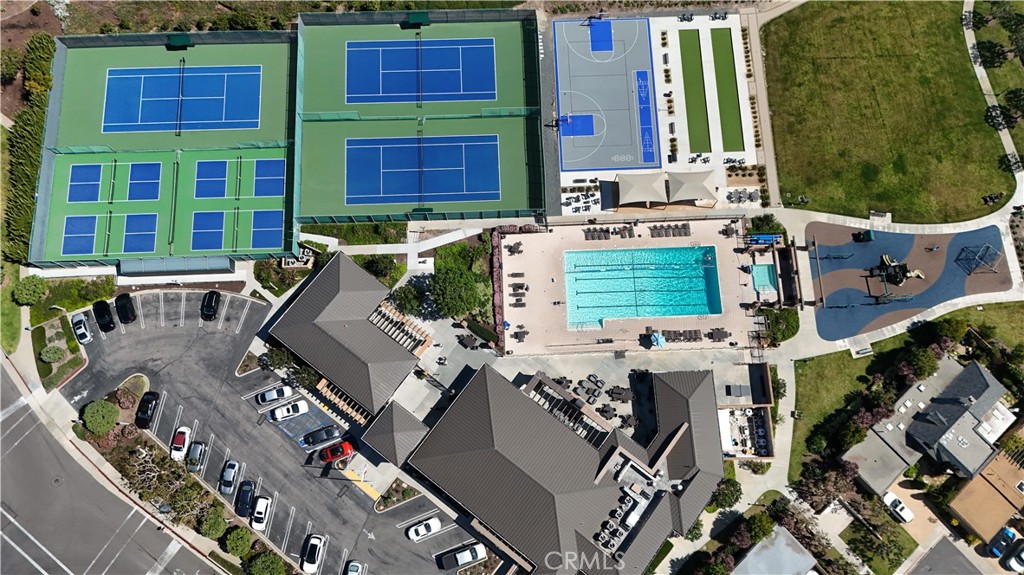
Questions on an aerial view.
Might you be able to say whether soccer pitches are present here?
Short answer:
No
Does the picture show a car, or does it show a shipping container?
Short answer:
car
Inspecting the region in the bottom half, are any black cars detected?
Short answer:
Yes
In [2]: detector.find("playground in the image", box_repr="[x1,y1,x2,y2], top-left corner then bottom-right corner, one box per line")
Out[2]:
[806,223,1014,341]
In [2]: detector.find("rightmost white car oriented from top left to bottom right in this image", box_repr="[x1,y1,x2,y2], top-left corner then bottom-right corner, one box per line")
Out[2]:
[883,492,917,525]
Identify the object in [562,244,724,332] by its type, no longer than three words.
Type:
swimming pool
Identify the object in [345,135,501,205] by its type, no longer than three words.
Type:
tennis court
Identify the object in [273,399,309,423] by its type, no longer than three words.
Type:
car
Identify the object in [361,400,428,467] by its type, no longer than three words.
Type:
building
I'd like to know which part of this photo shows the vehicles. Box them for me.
[301,534,326,574]
[441,543,486,570]
[135,391,160,429]
[201,290,222,323]
[304,425,340,448]
[219,459,241,495]
[171,426,193,461]
[883,492,917,525]
[257,385,293,406]
[236,480,257,517]
[74,312,95,346]
[320,441,354,463]
[407,517,443,541]
[116,292,139,325]
[273,399,309,423]
[252,494,274,531]
[187,440,208,473]
[94,300,117,333]
[1004,536,1024,571]
[987,526,1016,558]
